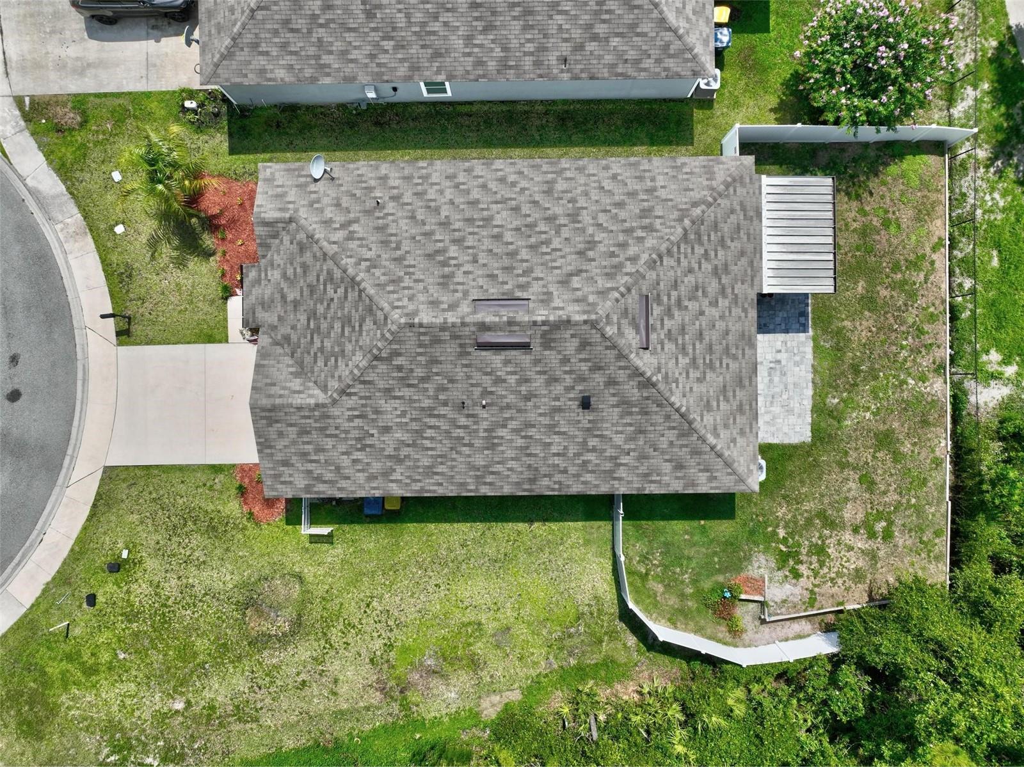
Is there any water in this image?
No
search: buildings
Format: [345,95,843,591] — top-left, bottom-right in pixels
[238,156,762,498]
[199,0,714,112]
